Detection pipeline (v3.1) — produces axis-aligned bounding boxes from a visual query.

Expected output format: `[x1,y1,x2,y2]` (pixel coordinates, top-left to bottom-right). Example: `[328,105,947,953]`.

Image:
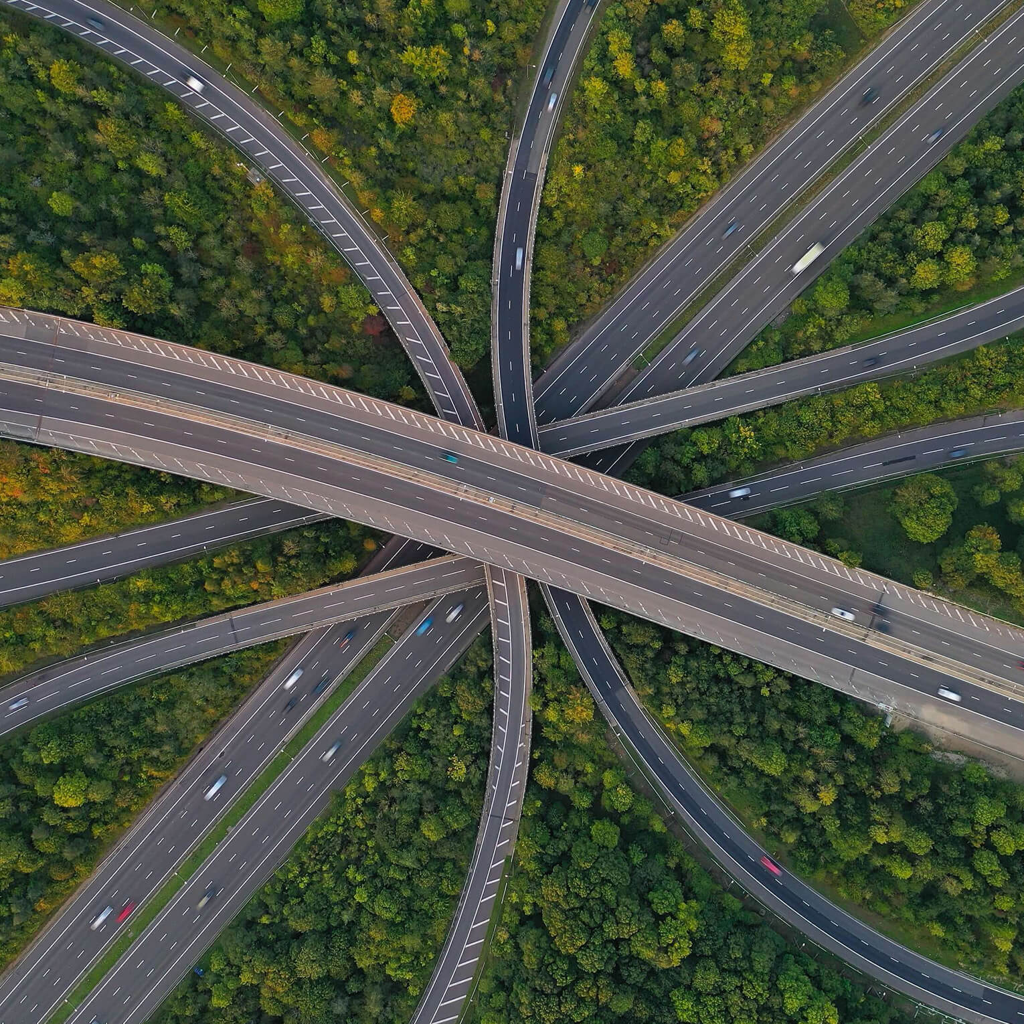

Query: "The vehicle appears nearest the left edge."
[10,696,29,709]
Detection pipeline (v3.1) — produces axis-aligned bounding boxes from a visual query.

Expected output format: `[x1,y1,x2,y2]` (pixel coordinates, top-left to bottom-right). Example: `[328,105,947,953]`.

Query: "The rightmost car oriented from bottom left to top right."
[926,129,943,145]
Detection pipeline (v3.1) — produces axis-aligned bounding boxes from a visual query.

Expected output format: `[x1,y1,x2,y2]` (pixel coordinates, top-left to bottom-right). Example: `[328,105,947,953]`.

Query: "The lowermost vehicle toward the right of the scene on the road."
[761,856,780,873]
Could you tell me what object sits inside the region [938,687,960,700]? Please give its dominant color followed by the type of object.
white vehicle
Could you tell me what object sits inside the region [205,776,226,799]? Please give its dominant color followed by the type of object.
white vehicle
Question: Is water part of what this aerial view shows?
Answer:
No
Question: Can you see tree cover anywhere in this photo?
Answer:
Yes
